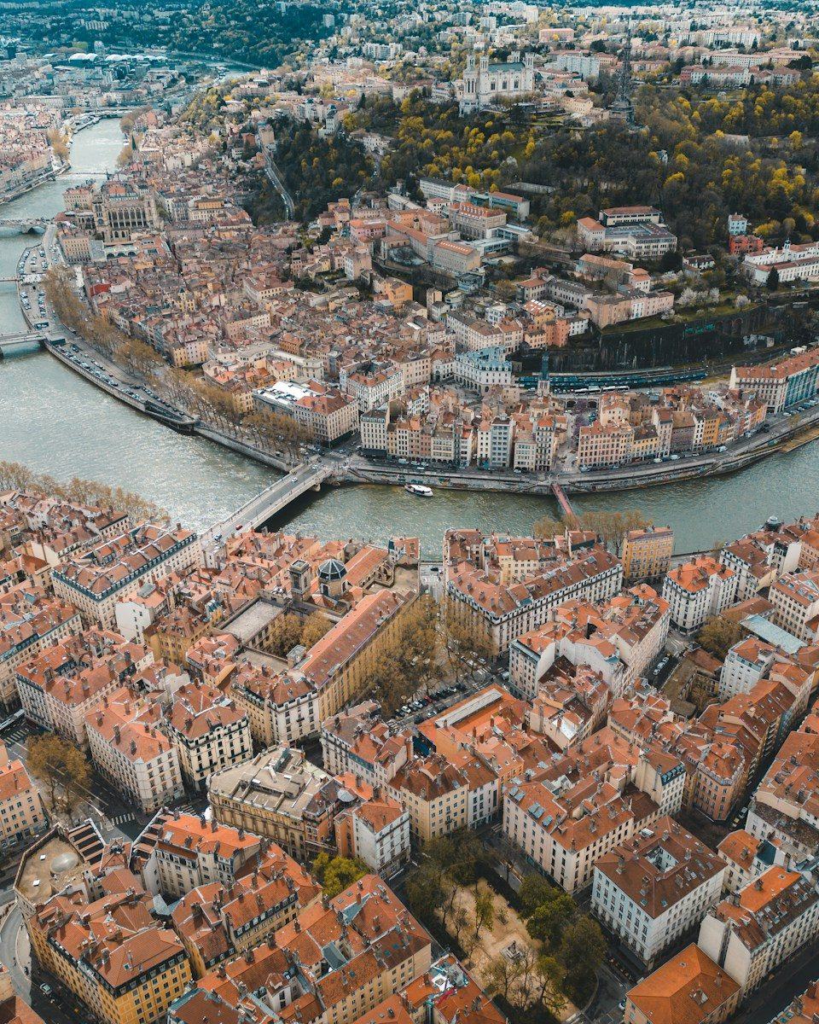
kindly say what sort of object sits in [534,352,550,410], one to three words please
building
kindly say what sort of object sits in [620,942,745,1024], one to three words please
building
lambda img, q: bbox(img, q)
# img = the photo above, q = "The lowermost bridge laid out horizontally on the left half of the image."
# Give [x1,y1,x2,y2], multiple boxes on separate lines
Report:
[0,333,53,353]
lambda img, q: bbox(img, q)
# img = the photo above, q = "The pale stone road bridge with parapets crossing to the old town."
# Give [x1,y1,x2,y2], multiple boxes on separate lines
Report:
[202,462,332,556]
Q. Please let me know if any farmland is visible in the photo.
No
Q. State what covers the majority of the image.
buildings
